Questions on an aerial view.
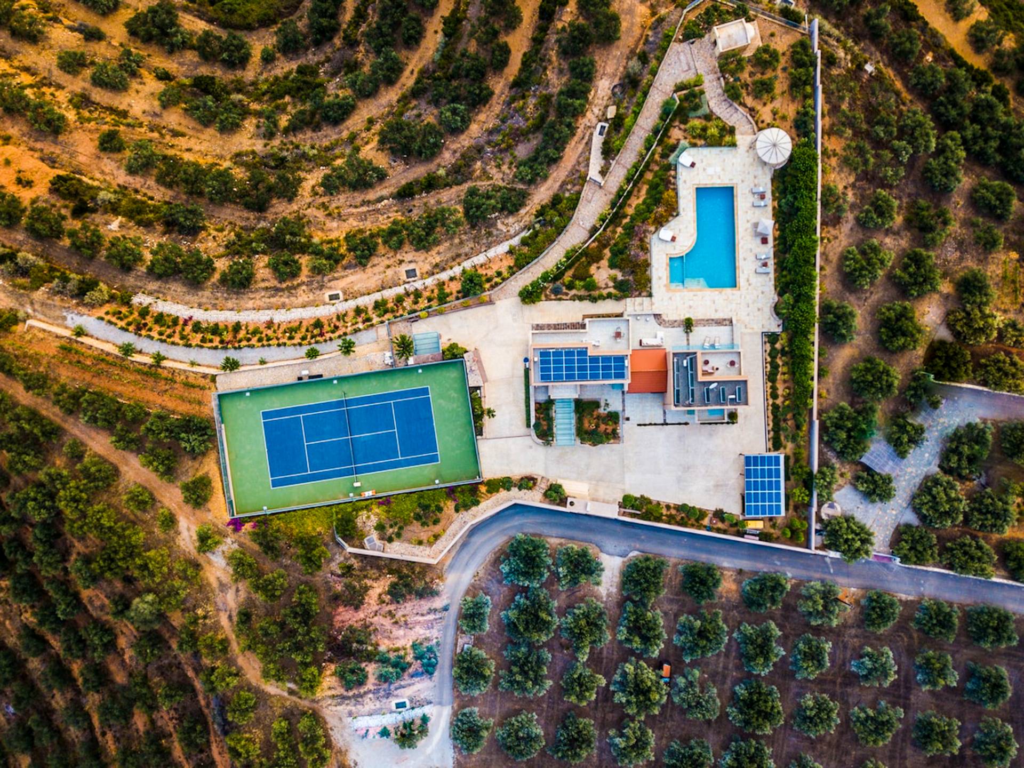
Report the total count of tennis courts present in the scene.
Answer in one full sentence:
The picture shows just 1 tennis court.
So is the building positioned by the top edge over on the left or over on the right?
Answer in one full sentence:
The building positioned by the top edge sits on the right side.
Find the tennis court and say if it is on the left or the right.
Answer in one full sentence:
You can find the tennis court on the left side of the picture.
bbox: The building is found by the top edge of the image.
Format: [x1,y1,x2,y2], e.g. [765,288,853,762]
[707,18,753,63]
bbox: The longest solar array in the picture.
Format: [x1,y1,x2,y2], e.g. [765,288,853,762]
[539,349,626,381]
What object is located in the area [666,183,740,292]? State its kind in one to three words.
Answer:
swimming pool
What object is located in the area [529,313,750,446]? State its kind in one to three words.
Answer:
house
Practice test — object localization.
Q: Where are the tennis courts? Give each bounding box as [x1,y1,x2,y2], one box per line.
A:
[219,361,480,514]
